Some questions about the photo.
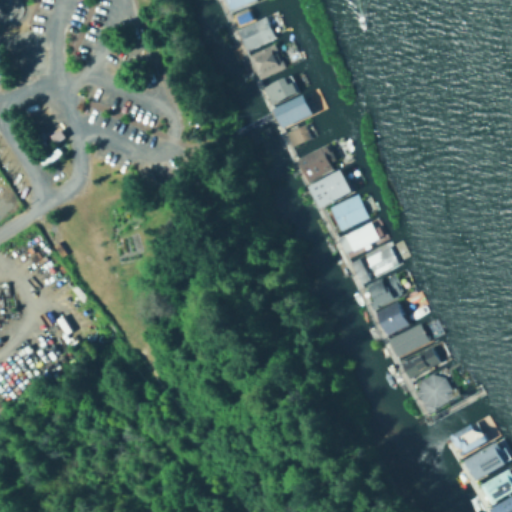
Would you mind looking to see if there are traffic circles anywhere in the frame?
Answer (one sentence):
No, the frame has no traffic circle in it.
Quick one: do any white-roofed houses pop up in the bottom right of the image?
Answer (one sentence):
Yes, a white-roofed house is visible in the bottom right of the image.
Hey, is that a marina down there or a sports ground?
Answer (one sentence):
What you see here is a marina.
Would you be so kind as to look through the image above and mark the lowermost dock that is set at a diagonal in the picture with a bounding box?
[426,390,486,428]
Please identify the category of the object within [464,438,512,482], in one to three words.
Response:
house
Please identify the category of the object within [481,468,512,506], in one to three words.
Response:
house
